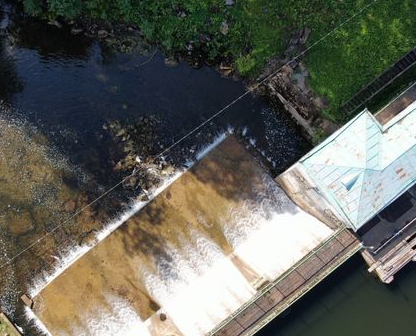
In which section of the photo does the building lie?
right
